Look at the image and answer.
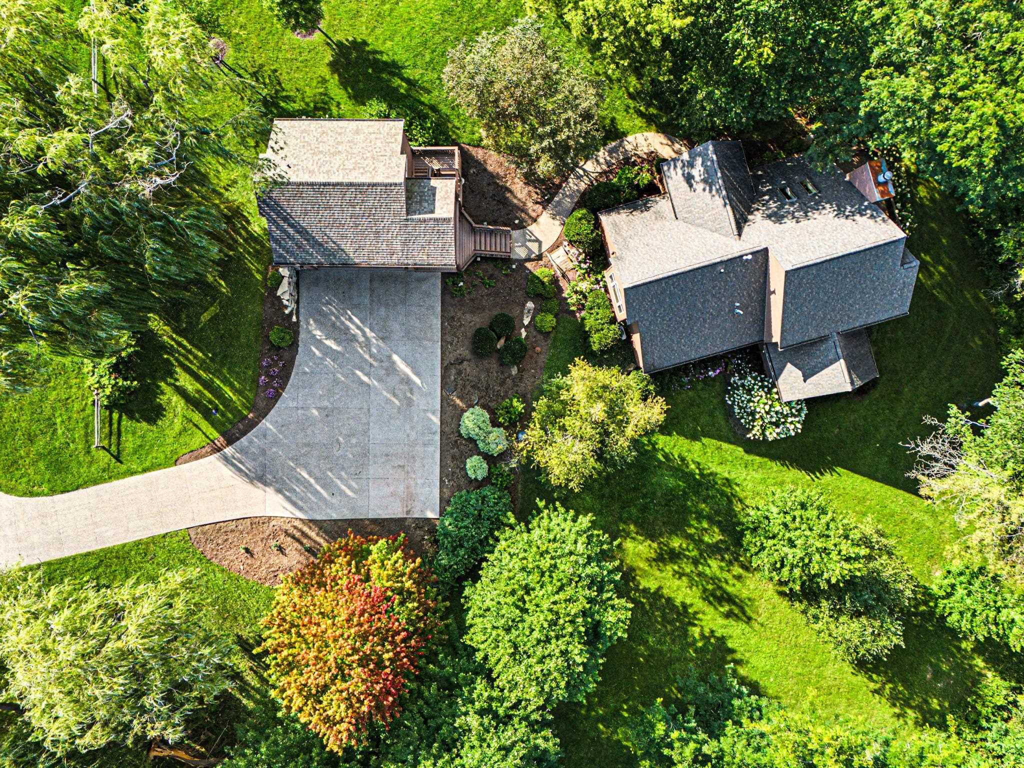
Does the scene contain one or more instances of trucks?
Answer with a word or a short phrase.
No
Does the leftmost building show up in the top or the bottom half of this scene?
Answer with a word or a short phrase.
top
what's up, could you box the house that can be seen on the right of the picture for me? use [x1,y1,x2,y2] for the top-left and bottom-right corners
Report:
[595,139,922,404]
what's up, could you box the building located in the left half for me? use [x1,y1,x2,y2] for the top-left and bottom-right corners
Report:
[254,120,457,275]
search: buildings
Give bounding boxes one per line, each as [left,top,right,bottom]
[595,139,922,404]
[254,120,457,275]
